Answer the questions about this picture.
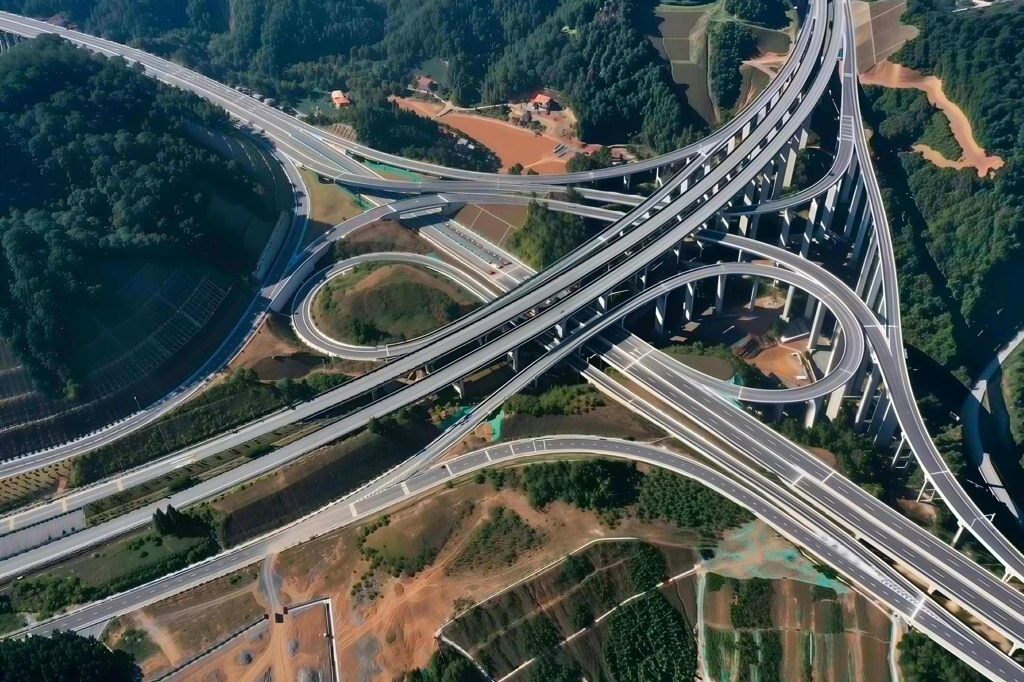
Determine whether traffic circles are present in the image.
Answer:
No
